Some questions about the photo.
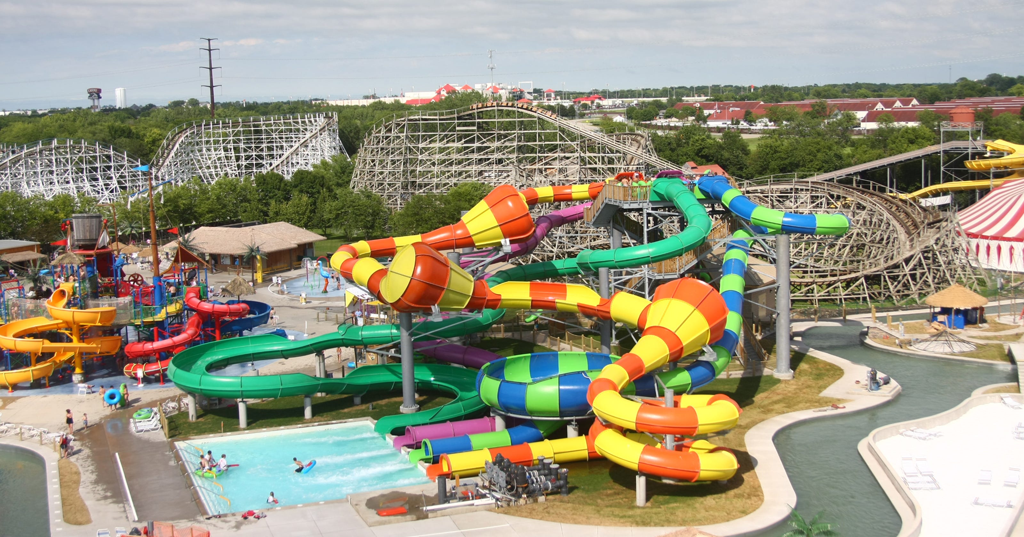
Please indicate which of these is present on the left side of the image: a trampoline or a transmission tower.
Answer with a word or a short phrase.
transmission tower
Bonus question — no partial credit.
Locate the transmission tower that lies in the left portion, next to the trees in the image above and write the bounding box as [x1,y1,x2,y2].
[197,35,223,122]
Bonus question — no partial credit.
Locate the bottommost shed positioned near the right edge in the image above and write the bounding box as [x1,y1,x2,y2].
[919,282,993,330]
